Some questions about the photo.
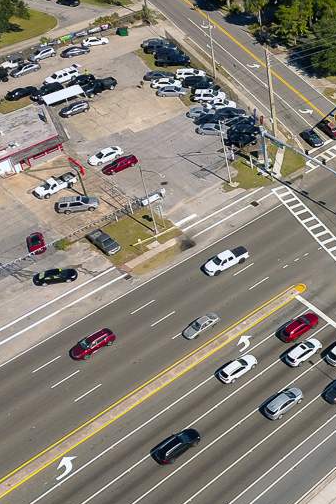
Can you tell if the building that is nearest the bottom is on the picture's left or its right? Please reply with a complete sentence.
The building that is nearest the bottom sits on the left side.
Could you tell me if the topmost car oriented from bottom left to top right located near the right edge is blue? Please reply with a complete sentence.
No, from above the topmost car oriented from bottom left to top right located near the right edge looks red.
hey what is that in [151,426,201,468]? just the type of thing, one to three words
car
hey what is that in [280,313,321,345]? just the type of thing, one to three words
car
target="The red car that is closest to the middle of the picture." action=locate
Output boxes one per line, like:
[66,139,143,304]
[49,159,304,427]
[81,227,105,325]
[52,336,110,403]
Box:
[103,155,137,175]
